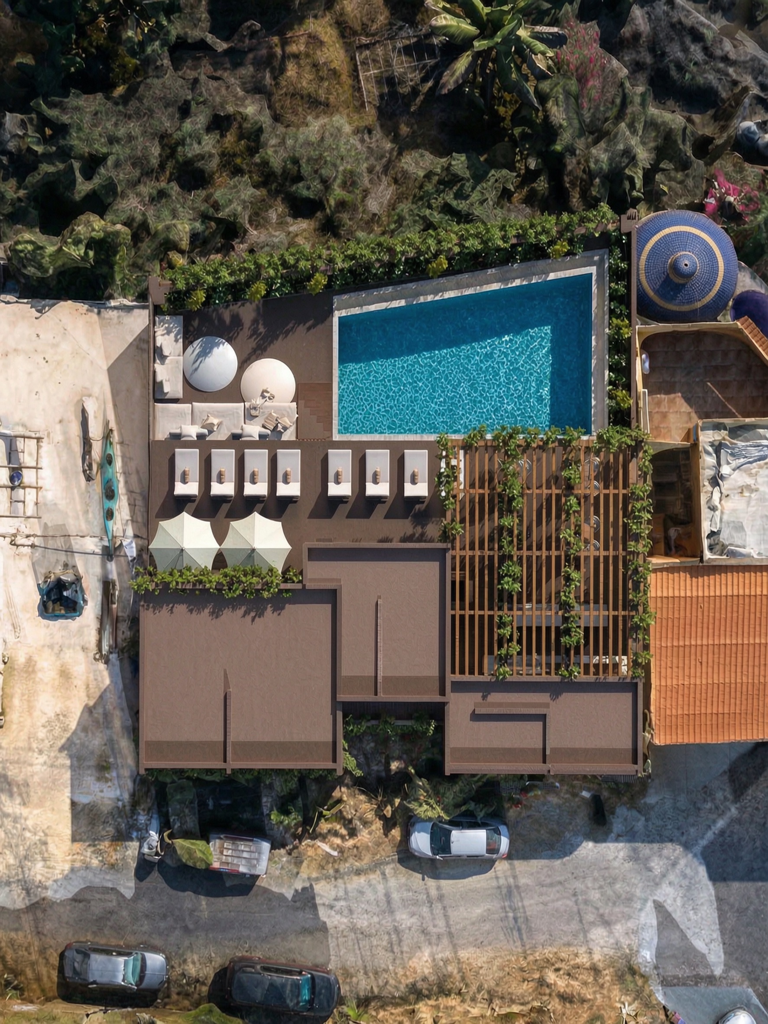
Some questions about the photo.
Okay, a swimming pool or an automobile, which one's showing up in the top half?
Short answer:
swimming pool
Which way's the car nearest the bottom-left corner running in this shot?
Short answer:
from left to right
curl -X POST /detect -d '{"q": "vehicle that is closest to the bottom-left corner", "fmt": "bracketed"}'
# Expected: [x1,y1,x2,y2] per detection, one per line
[62,937,173,996]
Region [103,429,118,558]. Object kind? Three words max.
boat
